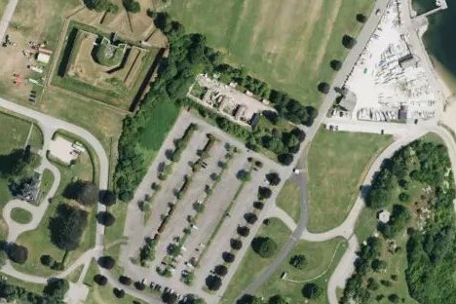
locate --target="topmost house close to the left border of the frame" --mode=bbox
[19,174,40,205]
